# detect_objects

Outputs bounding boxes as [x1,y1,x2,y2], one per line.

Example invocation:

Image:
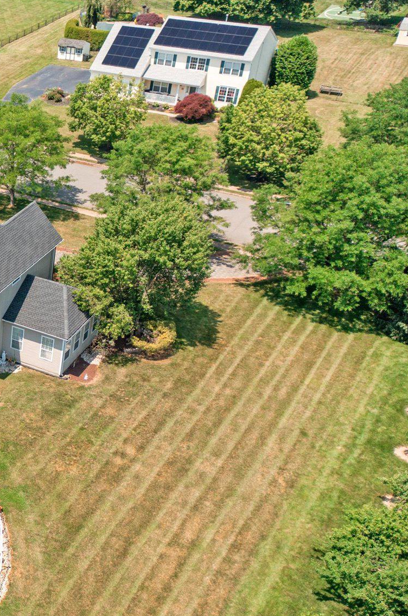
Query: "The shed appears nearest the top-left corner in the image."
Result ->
[59,39,89,61]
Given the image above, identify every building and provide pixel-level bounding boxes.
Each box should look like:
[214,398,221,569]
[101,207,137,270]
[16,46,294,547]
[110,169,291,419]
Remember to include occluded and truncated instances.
[0,201,105,376]
[59,39,89,61]
[396,13,408,47]
[94,11,278,105]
